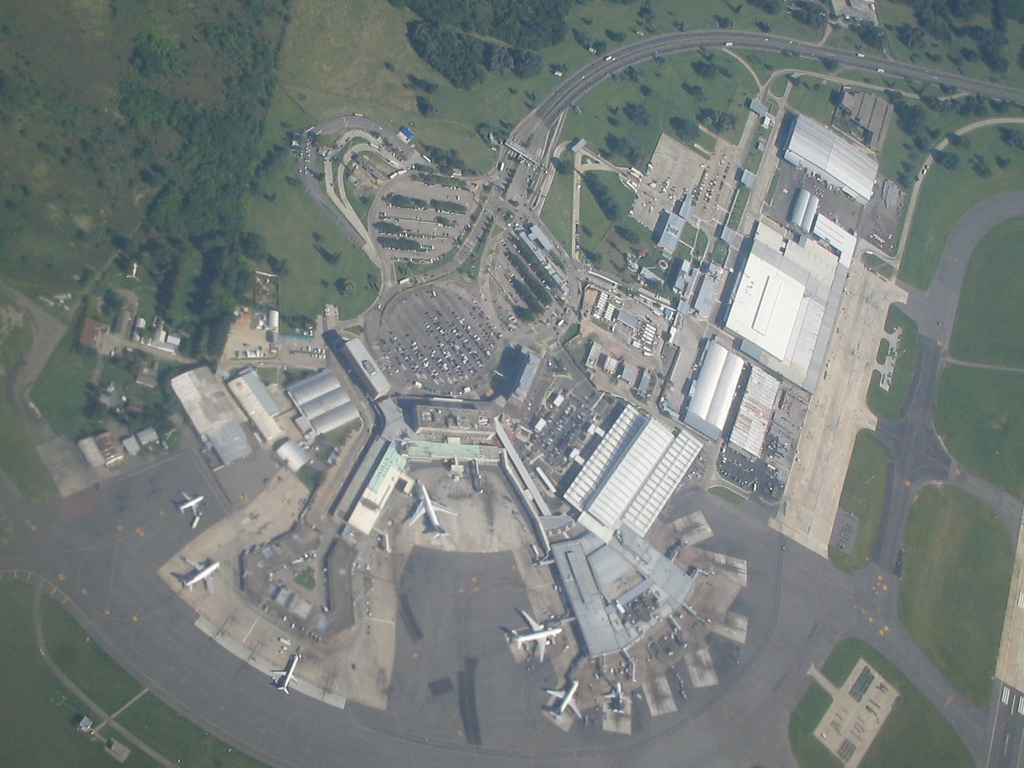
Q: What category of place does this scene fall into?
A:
airport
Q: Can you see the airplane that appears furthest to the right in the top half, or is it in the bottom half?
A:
bottom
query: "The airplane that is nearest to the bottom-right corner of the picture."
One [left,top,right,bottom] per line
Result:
[606,684,630,711]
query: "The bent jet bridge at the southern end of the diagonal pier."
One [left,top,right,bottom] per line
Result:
[369,525,391,555]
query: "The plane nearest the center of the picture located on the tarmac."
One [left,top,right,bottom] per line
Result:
[411,480,457,535]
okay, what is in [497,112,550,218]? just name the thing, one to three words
toll station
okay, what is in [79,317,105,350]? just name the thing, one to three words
house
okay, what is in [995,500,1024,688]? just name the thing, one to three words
runway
